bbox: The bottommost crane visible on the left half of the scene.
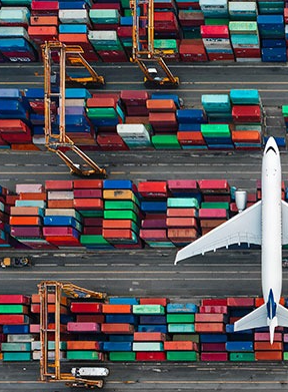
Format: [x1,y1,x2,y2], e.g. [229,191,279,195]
[36,281,103,387]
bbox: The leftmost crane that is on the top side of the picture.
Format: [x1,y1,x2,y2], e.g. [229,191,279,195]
[41,40,108,177]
